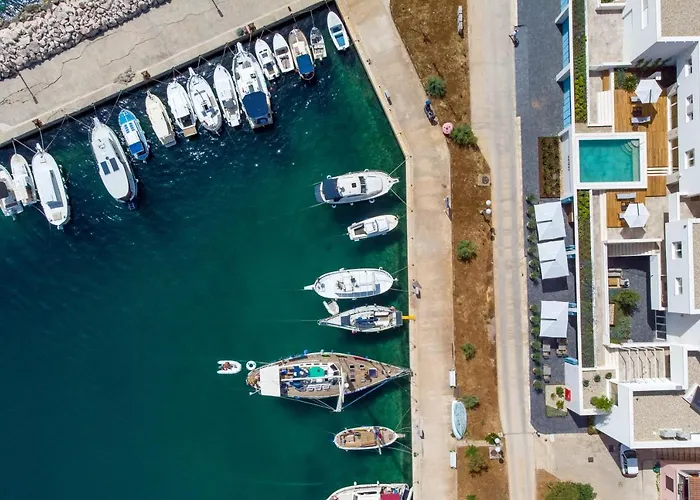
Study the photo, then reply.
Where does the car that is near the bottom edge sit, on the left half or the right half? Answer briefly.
right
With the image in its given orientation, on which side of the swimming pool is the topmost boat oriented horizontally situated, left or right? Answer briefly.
left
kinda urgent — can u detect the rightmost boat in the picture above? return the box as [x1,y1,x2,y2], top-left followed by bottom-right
[453,402,469,443]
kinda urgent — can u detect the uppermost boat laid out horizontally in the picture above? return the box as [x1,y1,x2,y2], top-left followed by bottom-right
[313,168,401,207]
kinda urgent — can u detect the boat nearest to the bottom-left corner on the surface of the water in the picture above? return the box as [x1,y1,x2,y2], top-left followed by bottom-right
[217,360,243,374]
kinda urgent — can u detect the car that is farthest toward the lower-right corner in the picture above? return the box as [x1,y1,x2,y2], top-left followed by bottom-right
[617,445,637,479]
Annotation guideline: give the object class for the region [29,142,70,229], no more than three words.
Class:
boat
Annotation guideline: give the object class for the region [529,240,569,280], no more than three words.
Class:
umbrella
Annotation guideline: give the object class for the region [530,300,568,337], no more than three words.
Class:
umbrella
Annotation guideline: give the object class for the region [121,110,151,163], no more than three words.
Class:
boat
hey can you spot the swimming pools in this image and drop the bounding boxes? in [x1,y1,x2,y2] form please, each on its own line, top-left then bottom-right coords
[561,133,648,200]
